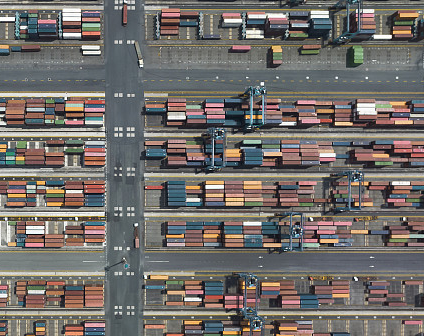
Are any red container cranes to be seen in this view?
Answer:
No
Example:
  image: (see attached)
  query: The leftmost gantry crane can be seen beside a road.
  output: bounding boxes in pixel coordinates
[201,127,228,173]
